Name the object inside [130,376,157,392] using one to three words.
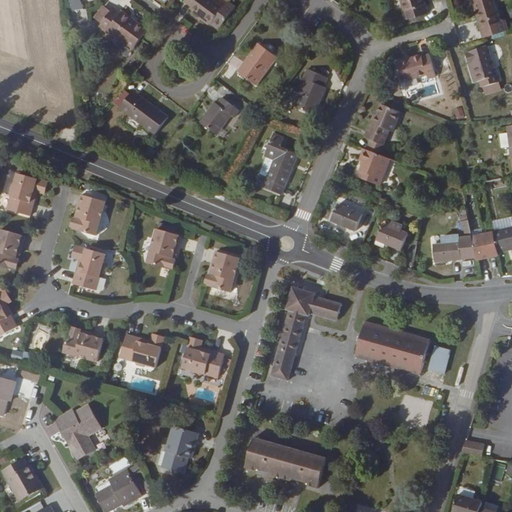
swimming pool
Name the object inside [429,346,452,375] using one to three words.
shed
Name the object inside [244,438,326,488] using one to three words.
building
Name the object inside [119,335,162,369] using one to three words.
house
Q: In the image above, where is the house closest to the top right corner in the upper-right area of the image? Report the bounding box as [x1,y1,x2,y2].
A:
[472,0,506,37]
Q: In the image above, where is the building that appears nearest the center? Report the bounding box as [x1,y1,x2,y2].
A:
[204,251,238,291]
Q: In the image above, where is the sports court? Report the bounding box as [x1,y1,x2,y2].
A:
[402,394,434,426]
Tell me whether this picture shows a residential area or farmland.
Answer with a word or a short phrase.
residential area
